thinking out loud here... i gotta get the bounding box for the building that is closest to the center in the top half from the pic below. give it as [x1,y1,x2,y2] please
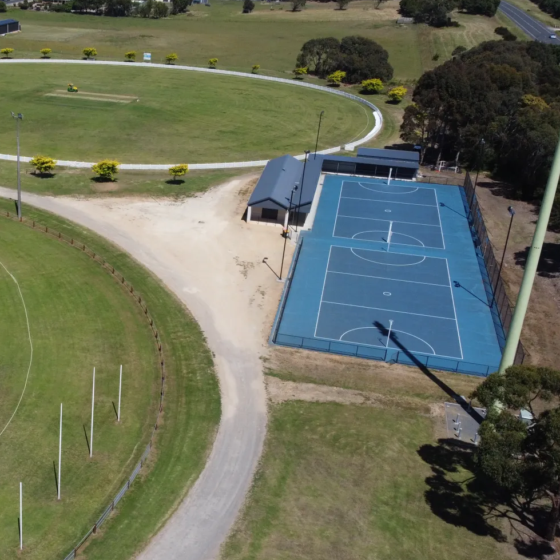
[247,153,324,226]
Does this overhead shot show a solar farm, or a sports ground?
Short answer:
sports ground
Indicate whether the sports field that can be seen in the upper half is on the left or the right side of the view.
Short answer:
left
